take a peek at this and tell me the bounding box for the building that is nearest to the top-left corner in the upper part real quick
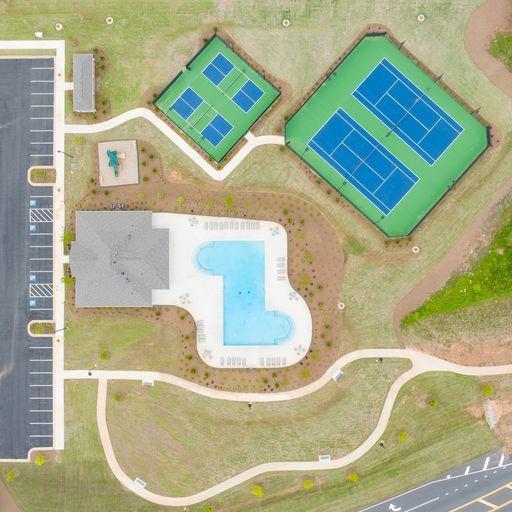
[72,54,96,114]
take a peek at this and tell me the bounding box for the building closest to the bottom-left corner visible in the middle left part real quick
[68,211,170,306]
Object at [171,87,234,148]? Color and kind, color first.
blue sports court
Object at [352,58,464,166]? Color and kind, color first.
blue tennis court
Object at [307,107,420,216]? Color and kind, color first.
blue tennis court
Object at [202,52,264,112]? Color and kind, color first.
blue sports court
